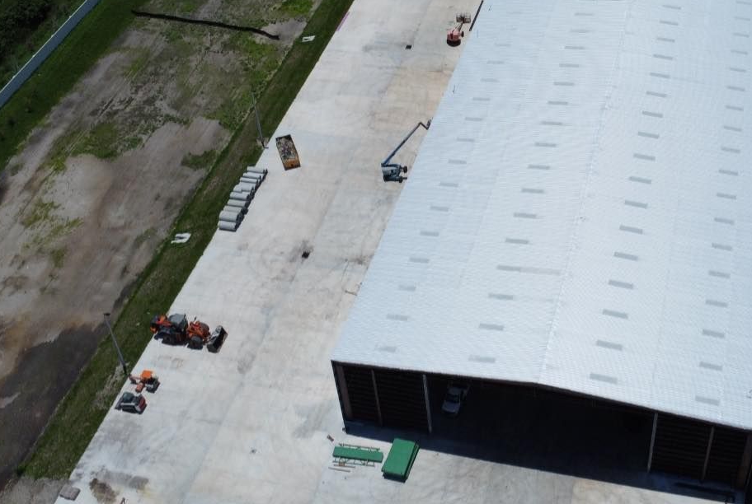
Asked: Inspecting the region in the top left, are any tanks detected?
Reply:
No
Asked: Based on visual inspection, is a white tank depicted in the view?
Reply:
No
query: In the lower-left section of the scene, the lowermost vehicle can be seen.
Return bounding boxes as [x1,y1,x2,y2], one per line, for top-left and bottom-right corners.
[111,388,147,414]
